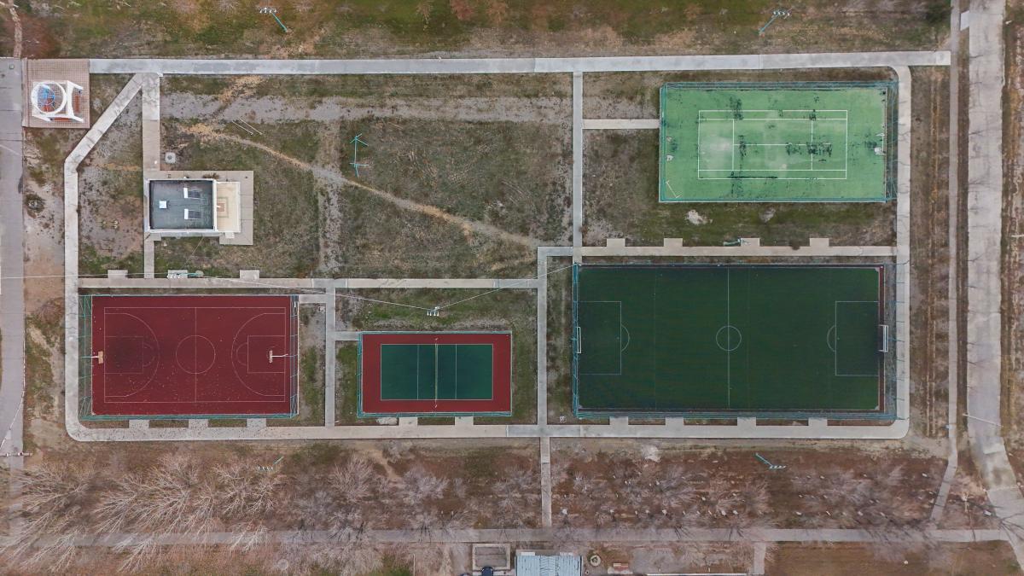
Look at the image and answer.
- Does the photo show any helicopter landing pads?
No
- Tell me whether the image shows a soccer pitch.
Yes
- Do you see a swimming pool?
No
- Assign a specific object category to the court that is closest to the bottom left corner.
basketball court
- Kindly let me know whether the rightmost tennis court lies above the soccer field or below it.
above it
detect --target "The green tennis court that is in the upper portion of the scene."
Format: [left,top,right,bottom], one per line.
[660,87,887,203]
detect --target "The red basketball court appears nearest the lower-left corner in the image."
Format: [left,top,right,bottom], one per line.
[91,296,299,417]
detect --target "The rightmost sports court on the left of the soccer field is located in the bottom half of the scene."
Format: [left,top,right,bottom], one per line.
[362,333,512,414]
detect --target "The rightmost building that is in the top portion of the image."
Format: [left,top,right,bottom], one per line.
[148,179,243,239]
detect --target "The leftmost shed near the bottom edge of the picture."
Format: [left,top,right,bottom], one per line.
[473,541,510,569]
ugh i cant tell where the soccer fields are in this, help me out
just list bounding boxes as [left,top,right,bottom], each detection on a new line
[573,263,885,413]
